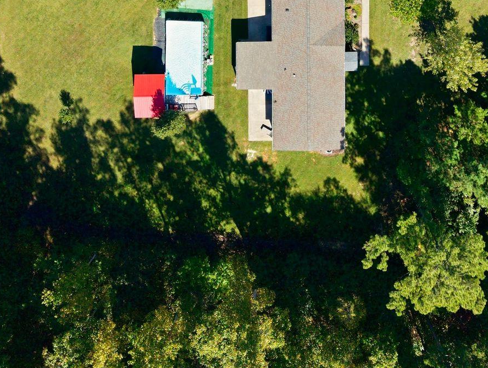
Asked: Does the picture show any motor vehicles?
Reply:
No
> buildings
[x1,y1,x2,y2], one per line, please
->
[133,71,167,119]
[235,0,357,155]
